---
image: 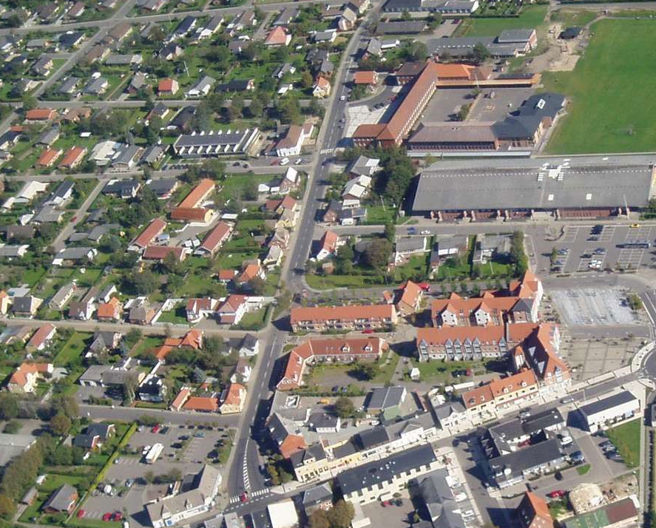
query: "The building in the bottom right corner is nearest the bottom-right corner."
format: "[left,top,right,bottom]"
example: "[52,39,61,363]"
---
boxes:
[605,497,639,528]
